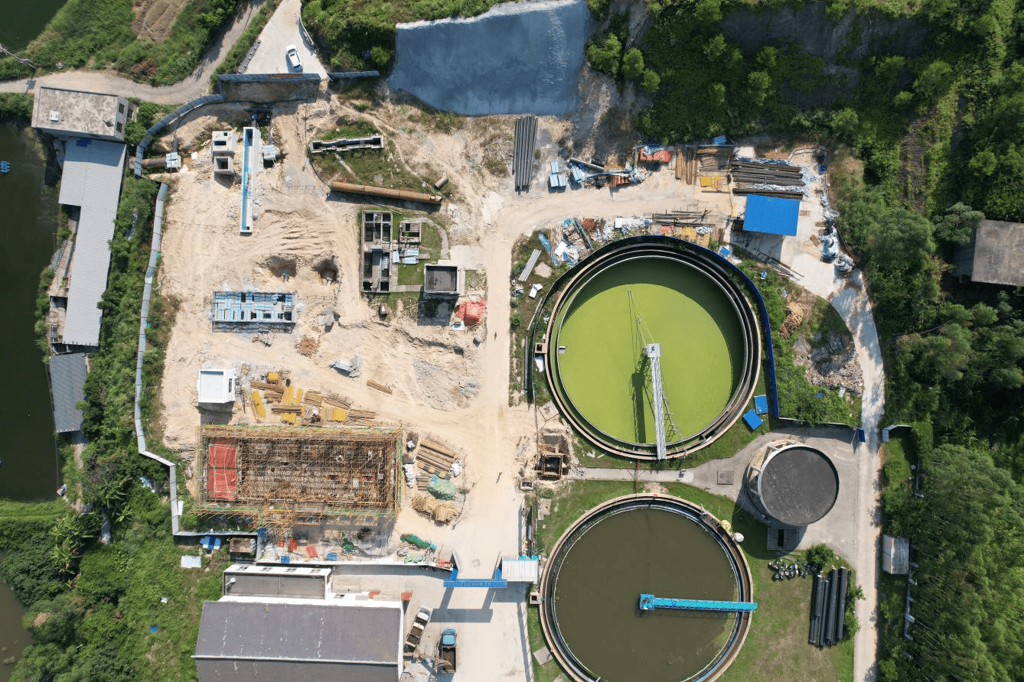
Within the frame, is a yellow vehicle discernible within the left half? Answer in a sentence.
No, no yellow vehicle is visible within the left half.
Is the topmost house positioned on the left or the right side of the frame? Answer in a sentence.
The topmost house appears in the left half of the scene.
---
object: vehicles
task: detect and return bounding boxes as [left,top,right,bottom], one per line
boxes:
[405,606,433,654]
[439,629,457,679]
[284,42,302,72]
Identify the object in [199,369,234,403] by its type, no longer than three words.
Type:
building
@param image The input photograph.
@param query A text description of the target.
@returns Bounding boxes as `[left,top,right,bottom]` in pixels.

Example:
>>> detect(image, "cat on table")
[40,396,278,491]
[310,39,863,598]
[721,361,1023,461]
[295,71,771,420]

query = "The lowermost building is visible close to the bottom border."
[190,565,407,682]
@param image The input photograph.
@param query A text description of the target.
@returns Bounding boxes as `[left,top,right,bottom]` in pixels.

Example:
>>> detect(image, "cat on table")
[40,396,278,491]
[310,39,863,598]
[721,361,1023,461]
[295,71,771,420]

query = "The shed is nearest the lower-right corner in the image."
[874,529,908,574]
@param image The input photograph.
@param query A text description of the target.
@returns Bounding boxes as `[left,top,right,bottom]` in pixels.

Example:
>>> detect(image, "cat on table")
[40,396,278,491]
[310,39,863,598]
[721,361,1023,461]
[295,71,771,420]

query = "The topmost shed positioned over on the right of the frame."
[735,194,800,240]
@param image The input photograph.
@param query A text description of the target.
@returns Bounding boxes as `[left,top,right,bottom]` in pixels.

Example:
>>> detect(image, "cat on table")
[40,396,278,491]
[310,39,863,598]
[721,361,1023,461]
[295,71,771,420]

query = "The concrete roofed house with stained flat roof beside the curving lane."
[30,86,144,148]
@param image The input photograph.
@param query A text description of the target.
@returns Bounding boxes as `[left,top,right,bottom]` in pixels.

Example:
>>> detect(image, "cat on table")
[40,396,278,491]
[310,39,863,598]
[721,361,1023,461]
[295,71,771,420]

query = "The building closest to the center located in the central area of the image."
[424,264,461,295]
